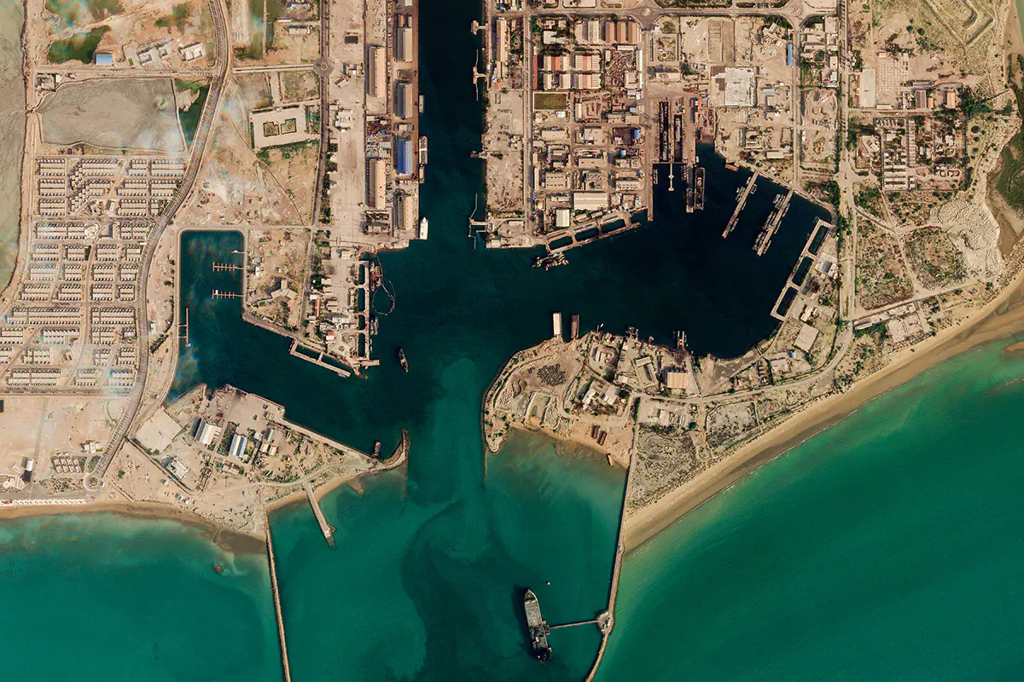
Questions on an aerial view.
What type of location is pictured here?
port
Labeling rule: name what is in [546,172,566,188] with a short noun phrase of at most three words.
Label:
building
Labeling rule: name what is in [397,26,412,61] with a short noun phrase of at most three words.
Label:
shed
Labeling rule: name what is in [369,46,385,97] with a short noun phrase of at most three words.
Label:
shed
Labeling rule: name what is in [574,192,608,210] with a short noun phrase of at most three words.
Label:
building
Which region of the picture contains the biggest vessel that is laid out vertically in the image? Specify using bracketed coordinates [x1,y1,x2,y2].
[526,590,549,662]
